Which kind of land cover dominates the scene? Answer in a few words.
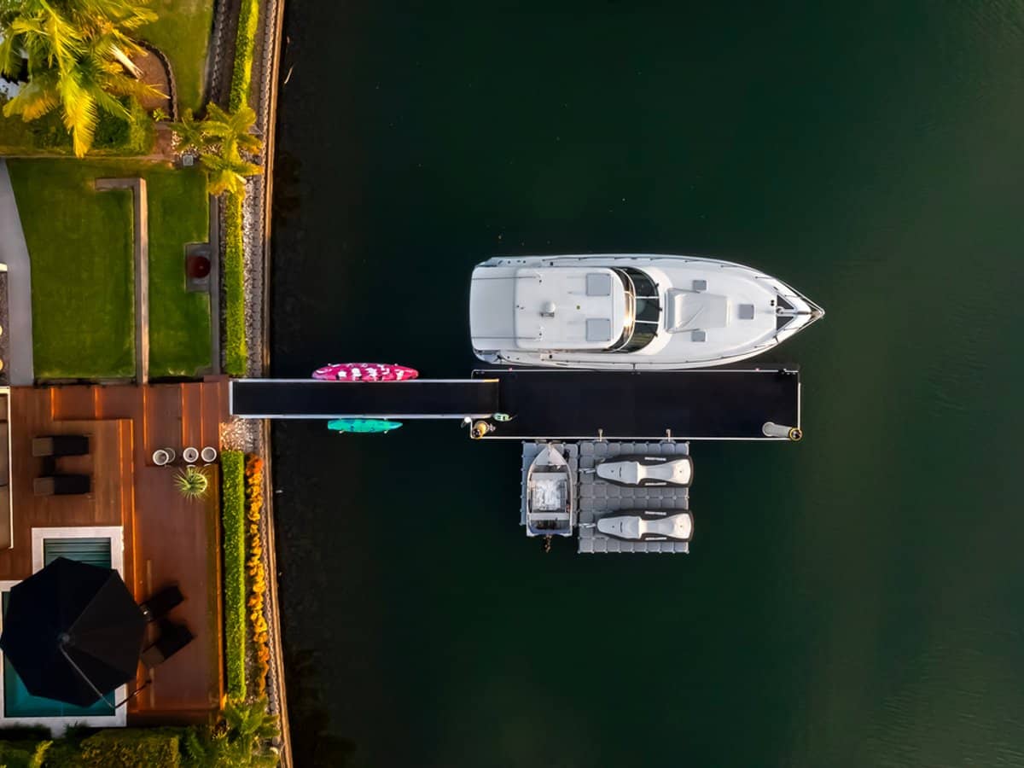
water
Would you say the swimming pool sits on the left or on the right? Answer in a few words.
left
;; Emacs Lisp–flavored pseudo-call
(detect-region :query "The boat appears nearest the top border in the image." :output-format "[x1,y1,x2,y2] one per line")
[470,253,825,370]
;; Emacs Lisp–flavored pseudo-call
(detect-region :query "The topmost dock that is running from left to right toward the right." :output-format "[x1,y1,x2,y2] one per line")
[471,368,801,440]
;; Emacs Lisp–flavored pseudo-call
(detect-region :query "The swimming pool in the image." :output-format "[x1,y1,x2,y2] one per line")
[0,525,134,739]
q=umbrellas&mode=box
[2,557,153,710]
